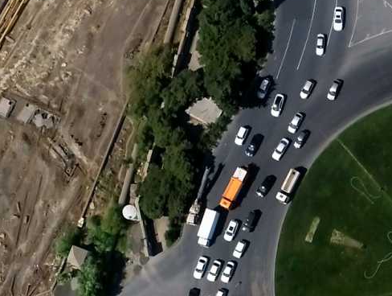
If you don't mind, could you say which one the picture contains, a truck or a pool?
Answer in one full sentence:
The image shows a truck.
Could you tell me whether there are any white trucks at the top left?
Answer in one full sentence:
No, I see no white truck at the top left.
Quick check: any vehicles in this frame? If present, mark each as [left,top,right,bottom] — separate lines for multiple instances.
[288,111,305,134]
[215,289,227,296]
[225,219,239,242]
[234,125,250,146]
[208,259,222,282]
[194,256,208,278]
[333,7,345,31]
[274,166,303,205]
[185,164,214,228]
[327,79,341,101]
[242,210,260,232]
[234,239,247,259]
[294,129,310,150]
[315,34,326,57]
[257,173,278,197]
[221,261,235,284]
[197,206,222,249]
[272,93,286,117]
[246,132,265,158]
[273,137,290,162]
[218,165,251,210]
[300,79,314,99]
